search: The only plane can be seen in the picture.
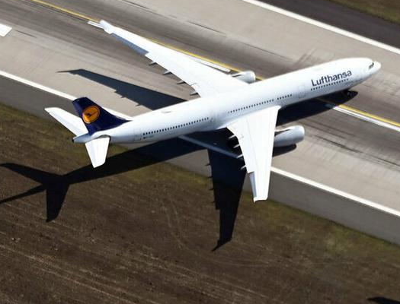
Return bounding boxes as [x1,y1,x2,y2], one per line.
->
[45,20,380,203]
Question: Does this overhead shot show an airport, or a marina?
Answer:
airport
